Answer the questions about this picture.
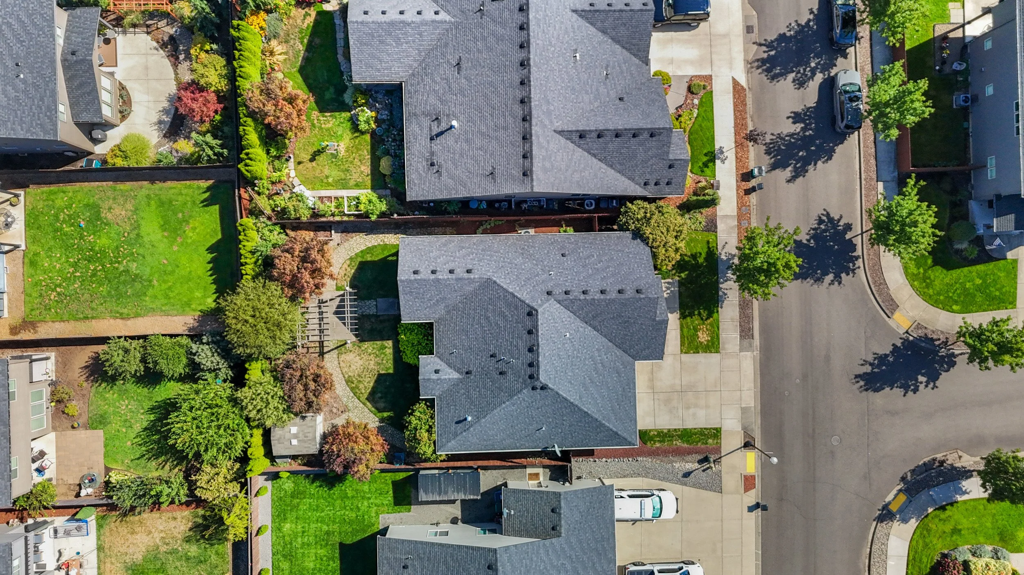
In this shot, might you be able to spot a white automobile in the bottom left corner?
No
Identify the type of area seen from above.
residential area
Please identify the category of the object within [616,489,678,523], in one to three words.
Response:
car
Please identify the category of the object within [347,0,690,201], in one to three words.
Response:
house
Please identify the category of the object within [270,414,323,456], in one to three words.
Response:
shed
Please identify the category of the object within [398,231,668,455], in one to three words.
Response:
house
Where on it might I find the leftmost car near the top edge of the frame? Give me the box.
[653,0,710,25]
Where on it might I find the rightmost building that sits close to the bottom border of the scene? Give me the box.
[376,477,618,575]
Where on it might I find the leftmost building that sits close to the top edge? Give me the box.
[0,0,119,153]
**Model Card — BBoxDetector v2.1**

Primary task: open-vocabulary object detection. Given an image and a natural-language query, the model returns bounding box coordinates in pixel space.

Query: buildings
[398,231,668,455]
[968,0,1024,235]
[0,0,119,153]
[376,477,618,575]
[347,0,690,201]
[0,518,57,575]
[270,414,323,456]
[0,353,52,508]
